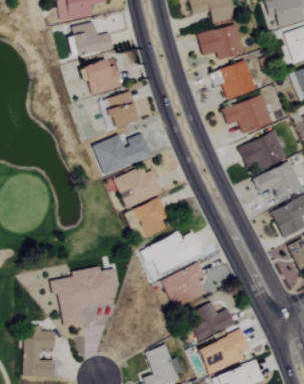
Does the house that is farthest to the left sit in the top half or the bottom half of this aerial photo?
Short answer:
bottom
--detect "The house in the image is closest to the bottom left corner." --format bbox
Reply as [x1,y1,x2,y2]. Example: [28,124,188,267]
[24,330,56,376]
